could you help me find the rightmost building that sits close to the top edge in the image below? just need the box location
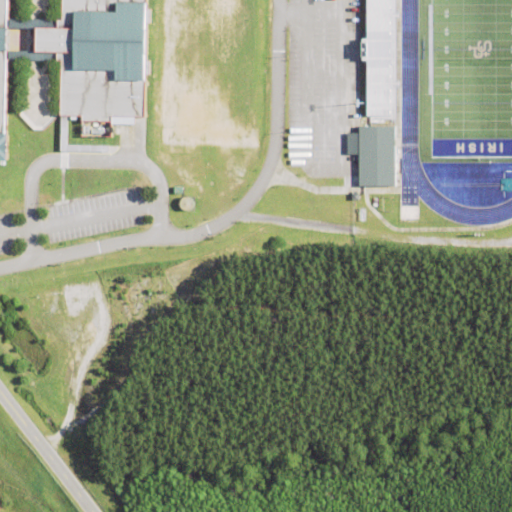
[60,0,146,124]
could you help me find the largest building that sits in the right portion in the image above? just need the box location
[348,126,396,187]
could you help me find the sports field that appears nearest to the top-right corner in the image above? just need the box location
[418,0,512,164]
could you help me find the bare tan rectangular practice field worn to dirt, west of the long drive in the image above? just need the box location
[160,0,262,150]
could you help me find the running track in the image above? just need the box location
[402,0,512,227]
